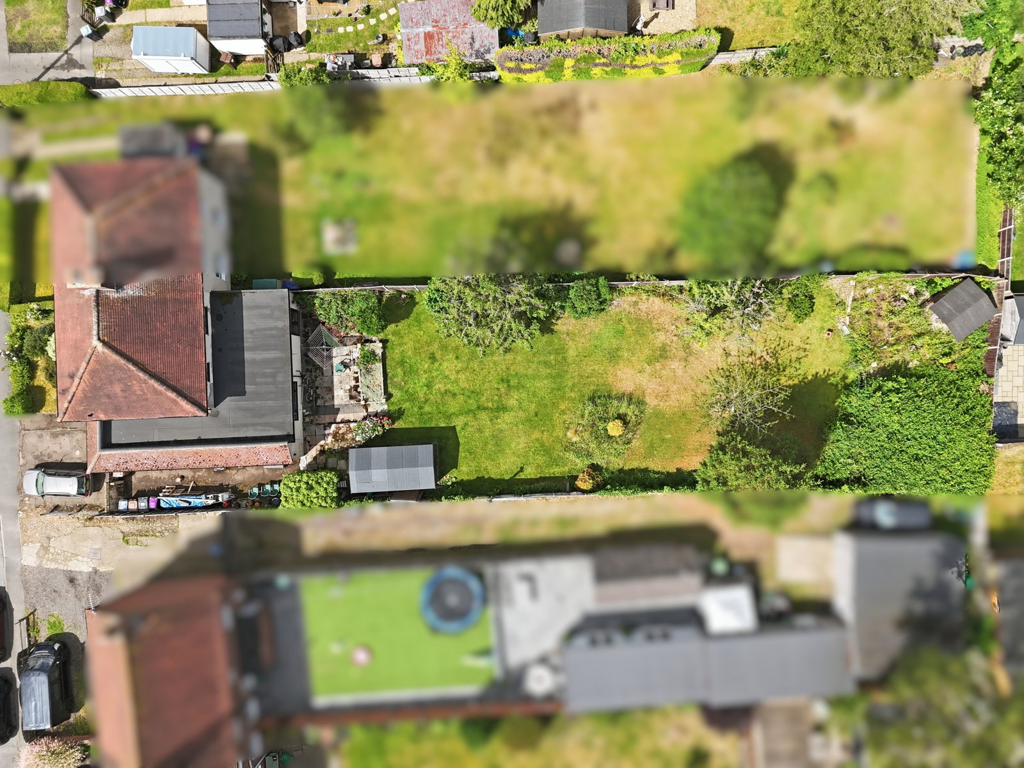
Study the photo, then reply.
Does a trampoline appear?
Yes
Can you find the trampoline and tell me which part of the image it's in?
bottom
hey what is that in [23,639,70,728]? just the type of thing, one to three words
car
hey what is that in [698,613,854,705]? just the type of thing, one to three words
shed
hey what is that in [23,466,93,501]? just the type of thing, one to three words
car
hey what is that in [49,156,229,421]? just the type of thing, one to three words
house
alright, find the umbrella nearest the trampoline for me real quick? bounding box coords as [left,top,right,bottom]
[524,659,553,692]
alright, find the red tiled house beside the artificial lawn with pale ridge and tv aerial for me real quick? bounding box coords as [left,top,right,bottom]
[84,558,261,768]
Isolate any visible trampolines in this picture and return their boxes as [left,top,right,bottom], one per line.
[423,569,485,630]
